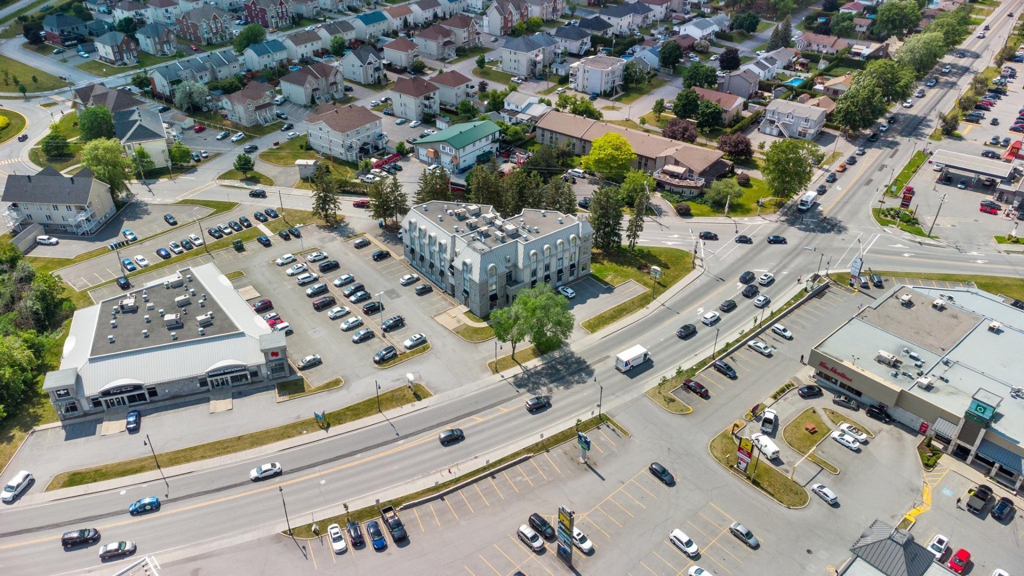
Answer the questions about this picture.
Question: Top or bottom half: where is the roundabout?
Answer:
top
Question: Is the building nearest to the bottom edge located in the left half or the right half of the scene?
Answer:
right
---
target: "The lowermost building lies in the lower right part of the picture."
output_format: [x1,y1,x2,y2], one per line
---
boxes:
[829,518,938,576]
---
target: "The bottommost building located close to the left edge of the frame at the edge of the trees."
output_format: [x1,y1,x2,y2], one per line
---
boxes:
[42,263,293,420]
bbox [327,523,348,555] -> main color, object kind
white car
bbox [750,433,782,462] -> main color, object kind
white van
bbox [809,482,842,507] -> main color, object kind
gray car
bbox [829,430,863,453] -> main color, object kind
white car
